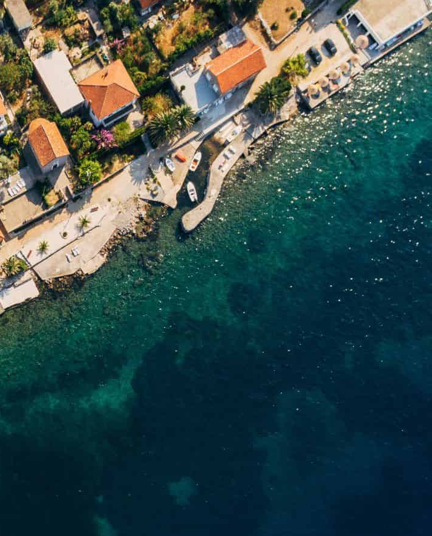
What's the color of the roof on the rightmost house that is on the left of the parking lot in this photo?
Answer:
orange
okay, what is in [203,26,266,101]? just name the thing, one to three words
house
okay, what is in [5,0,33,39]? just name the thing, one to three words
shed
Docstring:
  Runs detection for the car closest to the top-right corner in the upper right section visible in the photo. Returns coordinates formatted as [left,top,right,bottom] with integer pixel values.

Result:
[321,39,337,58]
